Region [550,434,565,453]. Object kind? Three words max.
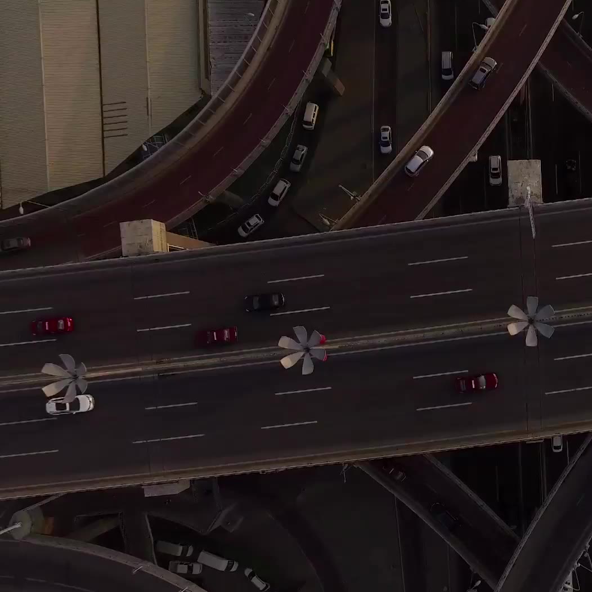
car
